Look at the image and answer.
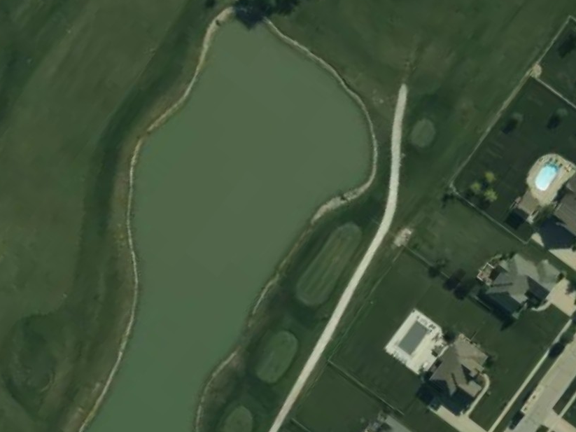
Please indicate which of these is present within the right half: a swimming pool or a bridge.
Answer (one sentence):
Visible within the right half is a swimming pool.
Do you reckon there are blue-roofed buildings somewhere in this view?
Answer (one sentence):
No, I can't see a single blue-roofed building in this photo.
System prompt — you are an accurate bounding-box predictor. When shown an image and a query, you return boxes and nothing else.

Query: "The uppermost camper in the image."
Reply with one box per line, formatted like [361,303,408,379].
[520,385,545,416]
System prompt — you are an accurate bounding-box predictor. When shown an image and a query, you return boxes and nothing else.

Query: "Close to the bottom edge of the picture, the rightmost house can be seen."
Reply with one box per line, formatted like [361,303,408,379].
[425,335,490,415]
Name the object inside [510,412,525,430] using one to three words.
vehicle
